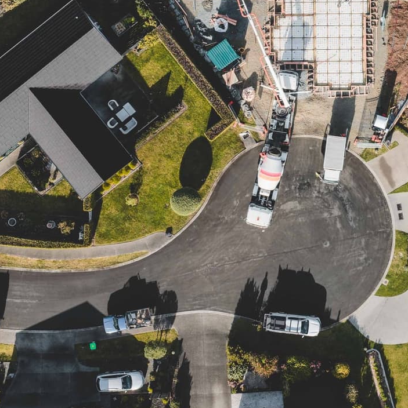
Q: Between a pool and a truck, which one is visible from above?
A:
truck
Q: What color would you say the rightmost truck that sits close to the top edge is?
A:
white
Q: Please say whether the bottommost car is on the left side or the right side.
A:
left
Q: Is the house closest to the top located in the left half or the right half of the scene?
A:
left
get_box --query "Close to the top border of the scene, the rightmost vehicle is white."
[237,0,313,153]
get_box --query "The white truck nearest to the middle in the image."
[242,141,287,236]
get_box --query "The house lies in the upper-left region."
[0,0,133,199]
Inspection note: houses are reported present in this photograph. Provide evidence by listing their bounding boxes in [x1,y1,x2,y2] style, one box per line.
[231,381,284,408]
[0,0,133,199]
